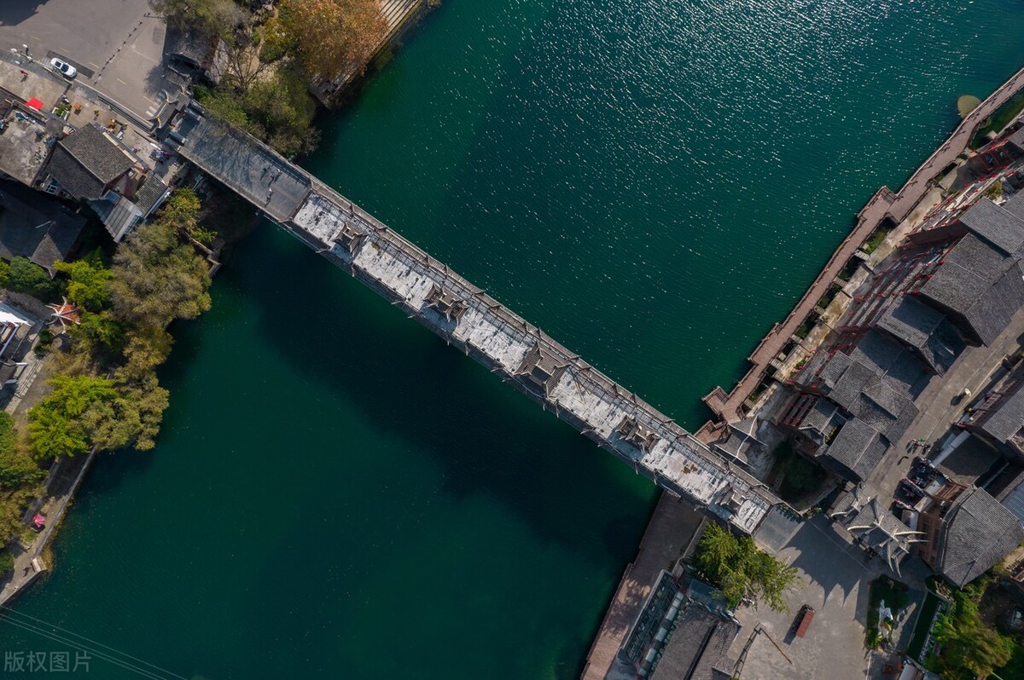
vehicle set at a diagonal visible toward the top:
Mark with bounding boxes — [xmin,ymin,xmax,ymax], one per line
[50,55,80,79]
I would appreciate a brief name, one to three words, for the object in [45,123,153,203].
house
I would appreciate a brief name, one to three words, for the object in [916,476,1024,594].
house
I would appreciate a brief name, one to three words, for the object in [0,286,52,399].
building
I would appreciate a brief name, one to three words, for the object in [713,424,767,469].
shed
